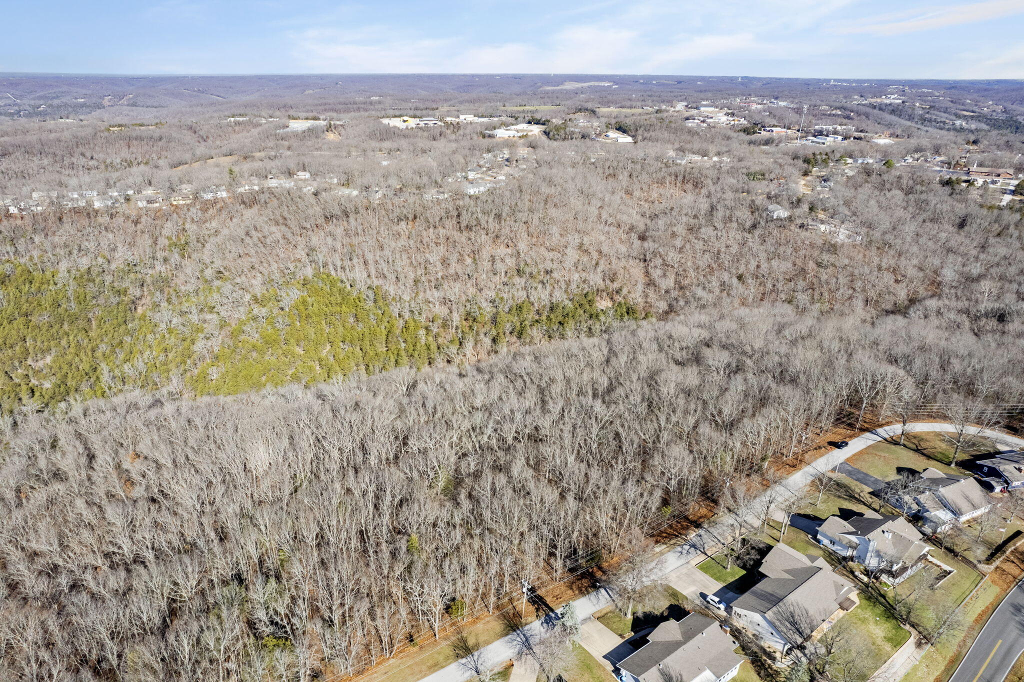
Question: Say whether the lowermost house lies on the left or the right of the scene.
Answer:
right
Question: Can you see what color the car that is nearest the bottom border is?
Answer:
white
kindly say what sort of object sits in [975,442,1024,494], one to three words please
house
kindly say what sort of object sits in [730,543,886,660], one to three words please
house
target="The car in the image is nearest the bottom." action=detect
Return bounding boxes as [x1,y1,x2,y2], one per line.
[702,591,730,613]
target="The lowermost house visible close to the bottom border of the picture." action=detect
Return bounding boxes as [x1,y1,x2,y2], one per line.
[613,612,751,682]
